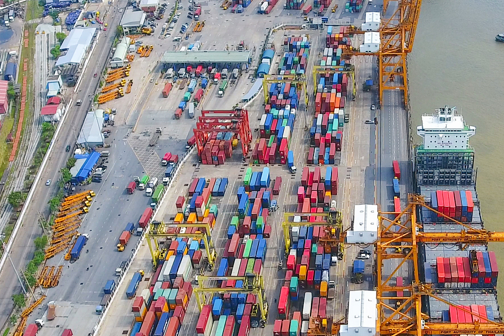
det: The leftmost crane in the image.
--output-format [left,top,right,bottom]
[146,217,215,272]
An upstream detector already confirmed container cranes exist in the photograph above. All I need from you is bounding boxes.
[279,282,504,336]
[263,70,310,106]
[195,268,267,324]
[331,0,415,82]
[295,193,504,322]
[327,0,422,110]
[194,118,246,163]
[201,105,249,149]
[282,208,344,261]
[312,60,357,99]
[146,217,215,272]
